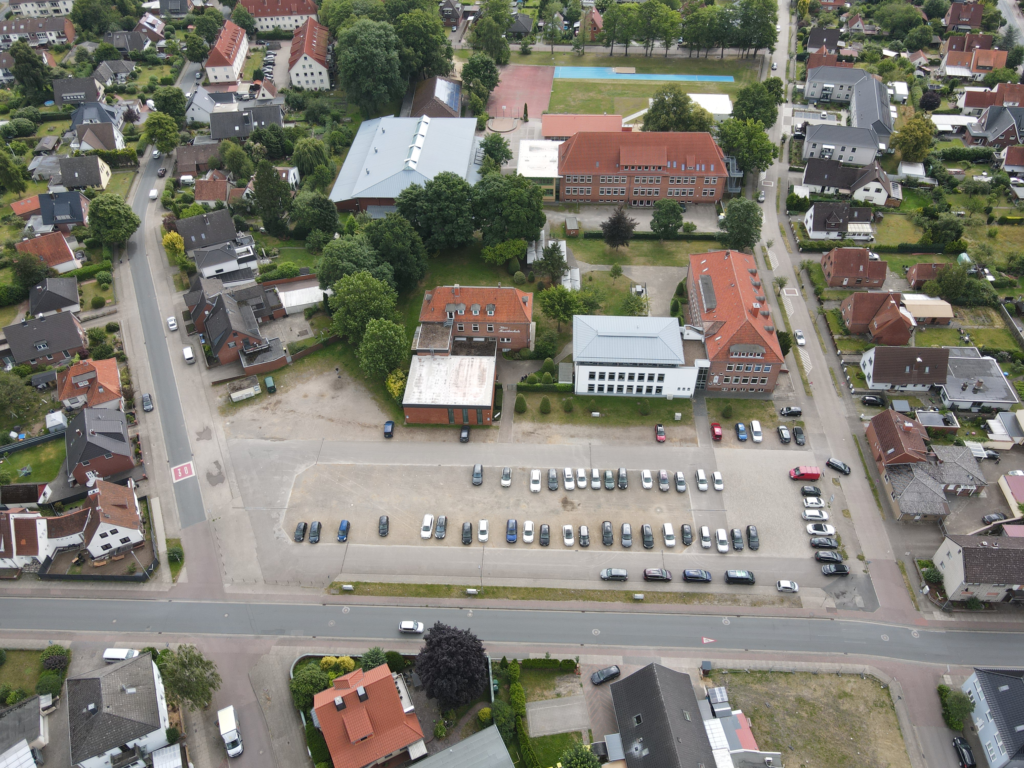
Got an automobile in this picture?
Yes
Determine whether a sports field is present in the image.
Yes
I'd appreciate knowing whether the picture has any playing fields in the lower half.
No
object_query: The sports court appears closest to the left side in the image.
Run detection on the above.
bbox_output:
[486,65,554,119]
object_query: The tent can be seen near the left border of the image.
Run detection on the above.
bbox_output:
[44,410,68,429]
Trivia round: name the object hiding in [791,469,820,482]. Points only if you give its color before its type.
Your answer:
red vehicle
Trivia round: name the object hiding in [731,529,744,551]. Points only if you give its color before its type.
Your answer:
gray vehicle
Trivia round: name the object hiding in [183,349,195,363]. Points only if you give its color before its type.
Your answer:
white vehicle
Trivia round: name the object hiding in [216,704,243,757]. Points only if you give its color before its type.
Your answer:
white truck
